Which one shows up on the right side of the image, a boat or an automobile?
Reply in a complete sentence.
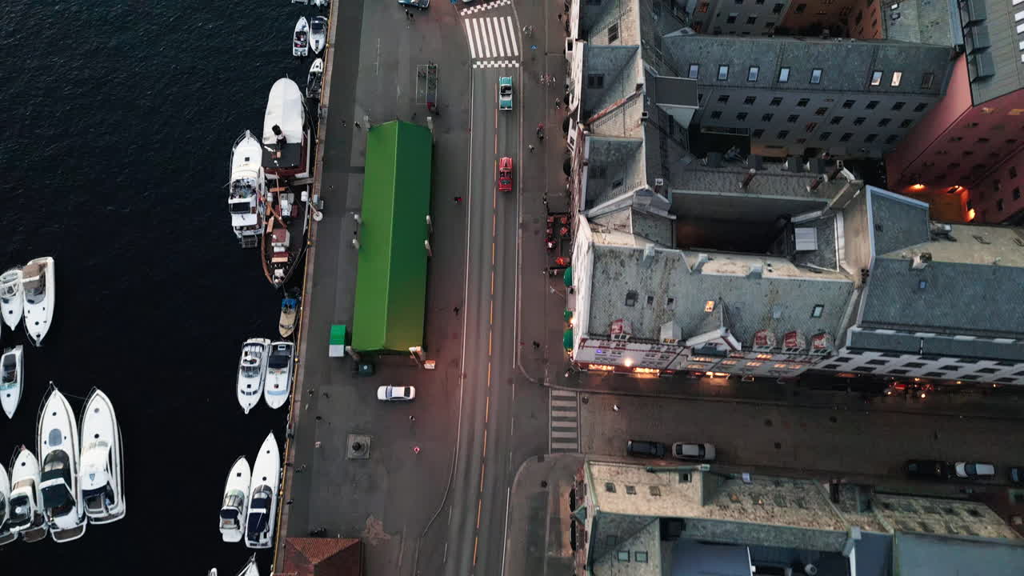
What appears on the right side of the image is an automobile.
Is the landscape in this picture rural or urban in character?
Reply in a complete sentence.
From above, the setting appears urban.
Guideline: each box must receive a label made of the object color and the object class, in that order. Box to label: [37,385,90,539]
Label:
white boat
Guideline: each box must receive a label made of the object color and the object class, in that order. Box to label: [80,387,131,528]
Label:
white boat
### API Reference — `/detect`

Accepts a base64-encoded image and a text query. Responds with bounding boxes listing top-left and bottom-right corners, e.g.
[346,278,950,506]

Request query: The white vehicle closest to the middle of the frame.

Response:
[377,384,416,400]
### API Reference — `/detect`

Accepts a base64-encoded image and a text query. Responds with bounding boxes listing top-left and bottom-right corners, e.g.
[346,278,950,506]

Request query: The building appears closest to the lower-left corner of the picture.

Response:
[283,536,364,576]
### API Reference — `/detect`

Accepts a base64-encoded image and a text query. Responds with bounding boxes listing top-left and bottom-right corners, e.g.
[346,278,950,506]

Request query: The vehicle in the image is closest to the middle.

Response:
[498,156,513,194]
